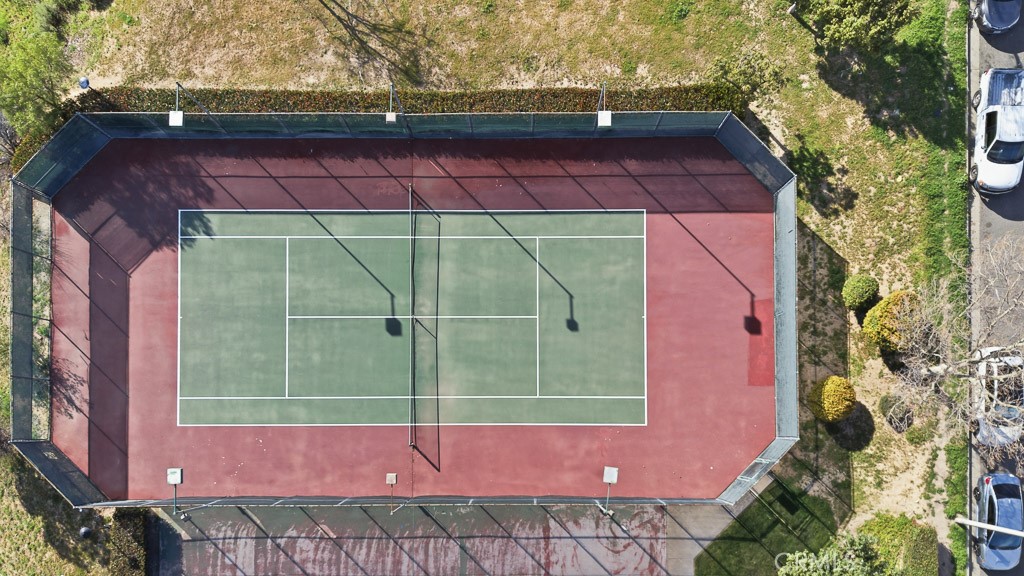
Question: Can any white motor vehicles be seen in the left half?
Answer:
No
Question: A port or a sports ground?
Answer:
sports ground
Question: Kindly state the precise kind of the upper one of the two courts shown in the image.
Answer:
tennis court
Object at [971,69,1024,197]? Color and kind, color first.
white truck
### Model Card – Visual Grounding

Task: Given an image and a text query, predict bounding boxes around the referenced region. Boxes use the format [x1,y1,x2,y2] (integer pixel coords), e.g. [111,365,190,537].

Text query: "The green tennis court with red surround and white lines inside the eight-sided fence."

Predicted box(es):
[52,137,775,499]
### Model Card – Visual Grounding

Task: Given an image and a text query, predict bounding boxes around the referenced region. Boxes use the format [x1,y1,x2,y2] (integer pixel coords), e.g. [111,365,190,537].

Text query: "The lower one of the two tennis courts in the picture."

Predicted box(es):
[158,506,667,576]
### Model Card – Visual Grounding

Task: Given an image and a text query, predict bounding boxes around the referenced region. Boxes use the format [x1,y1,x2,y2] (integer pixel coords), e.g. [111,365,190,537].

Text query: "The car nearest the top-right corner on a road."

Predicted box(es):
[975,0,1022,37]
